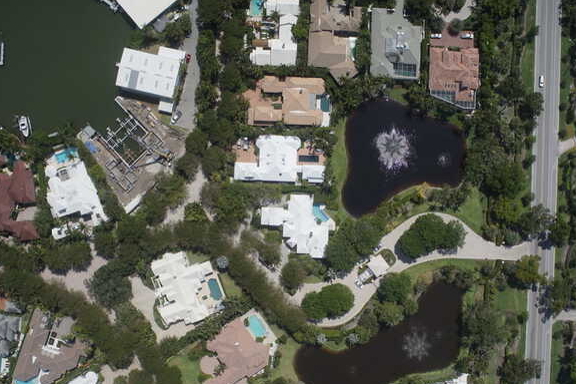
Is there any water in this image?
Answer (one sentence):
Yes, the picture does contain water.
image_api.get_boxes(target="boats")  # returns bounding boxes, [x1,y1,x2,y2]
[102,0,116,10]
[21,115,28,136]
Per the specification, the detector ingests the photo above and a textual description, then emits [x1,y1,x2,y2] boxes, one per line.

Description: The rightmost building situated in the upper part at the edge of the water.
[429,47,481,108]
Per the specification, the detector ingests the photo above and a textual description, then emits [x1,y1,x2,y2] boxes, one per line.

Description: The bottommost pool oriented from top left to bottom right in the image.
[250,314,266,335]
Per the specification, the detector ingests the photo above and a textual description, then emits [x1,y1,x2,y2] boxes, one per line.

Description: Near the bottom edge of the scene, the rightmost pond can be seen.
[295,281,461,384]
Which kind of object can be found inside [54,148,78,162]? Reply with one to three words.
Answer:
swimming pool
